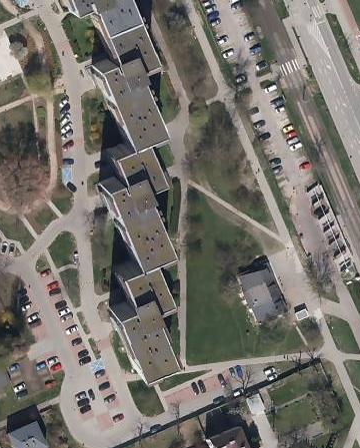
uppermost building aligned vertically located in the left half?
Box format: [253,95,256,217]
[64,0,180,385]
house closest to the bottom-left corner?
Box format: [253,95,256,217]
[10,421,47,448]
